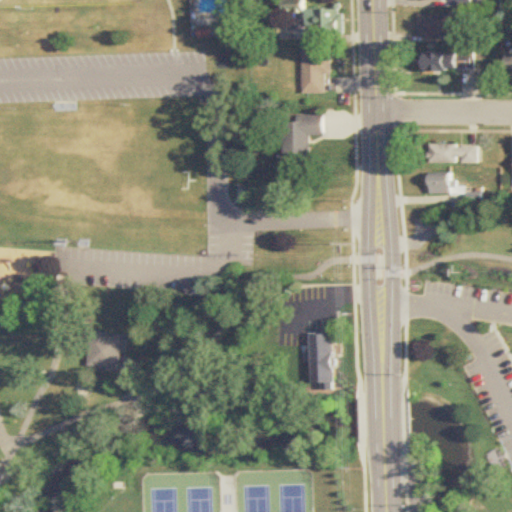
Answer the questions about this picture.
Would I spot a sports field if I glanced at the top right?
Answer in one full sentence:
No, I see no sports field at the top right.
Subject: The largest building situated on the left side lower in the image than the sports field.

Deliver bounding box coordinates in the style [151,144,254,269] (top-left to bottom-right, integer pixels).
[86,341,121,367]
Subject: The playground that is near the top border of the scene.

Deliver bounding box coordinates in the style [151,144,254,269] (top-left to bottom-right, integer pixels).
[192,0,216,36]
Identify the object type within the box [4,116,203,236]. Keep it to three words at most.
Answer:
sports field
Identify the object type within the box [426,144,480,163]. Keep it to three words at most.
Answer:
house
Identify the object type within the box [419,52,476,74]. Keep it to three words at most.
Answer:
house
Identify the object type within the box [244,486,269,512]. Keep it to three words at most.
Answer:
tennis court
